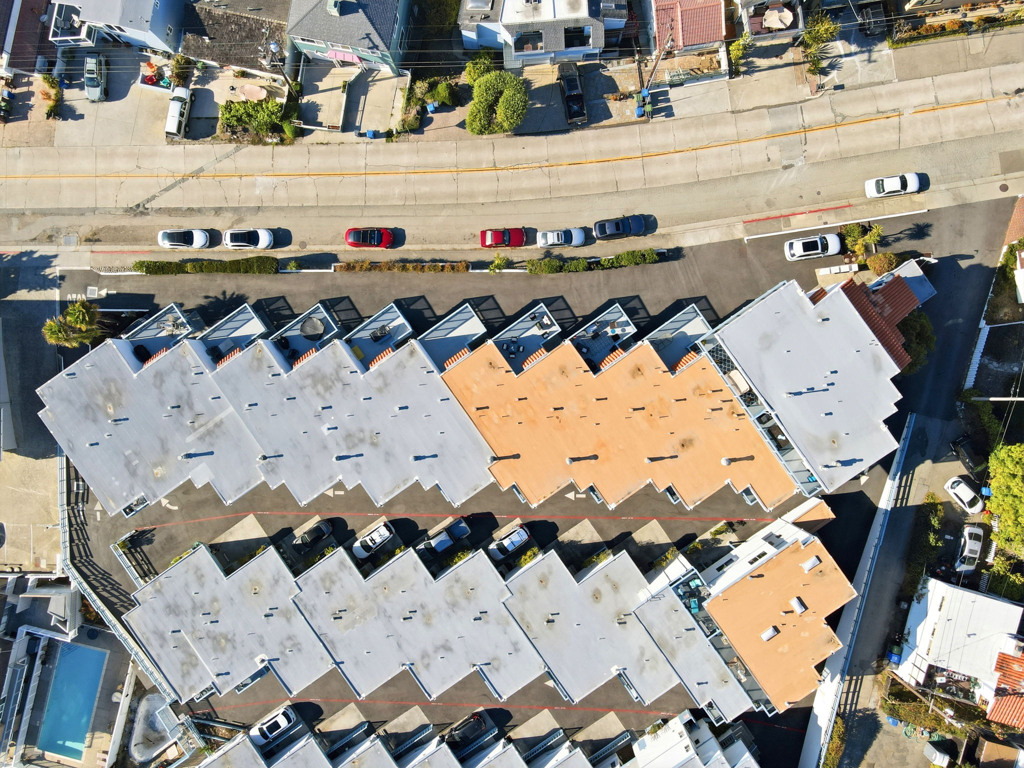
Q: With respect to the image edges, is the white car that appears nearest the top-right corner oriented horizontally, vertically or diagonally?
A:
horizontally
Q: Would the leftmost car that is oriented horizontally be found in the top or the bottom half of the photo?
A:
top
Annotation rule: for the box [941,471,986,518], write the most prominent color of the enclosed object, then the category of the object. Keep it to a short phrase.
white car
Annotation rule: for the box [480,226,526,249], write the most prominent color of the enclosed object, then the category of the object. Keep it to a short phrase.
red car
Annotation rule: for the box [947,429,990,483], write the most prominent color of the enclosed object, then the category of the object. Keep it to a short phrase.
black car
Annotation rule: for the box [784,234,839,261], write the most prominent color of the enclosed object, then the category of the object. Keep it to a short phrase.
white car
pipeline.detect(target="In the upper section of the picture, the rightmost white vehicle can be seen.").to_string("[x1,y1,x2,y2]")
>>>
[864,172,919,200]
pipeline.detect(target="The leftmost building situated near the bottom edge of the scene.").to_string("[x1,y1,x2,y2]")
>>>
[0,550,94,768]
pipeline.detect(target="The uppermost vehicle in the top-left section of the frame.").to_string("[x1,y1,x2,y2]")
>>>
[82,52,110,104]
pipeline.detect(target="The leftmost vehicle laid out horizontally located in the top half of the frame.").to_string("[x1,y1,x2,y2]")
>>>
[157,226,211,251]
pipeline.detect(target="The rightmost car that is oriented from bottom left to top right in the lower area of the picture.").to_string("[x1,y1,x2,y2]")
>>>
[484,523,534,563]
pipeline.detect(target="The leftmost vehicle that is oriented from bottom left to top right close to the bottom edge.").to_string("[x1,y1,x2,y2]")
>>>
[247,703,299,744]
